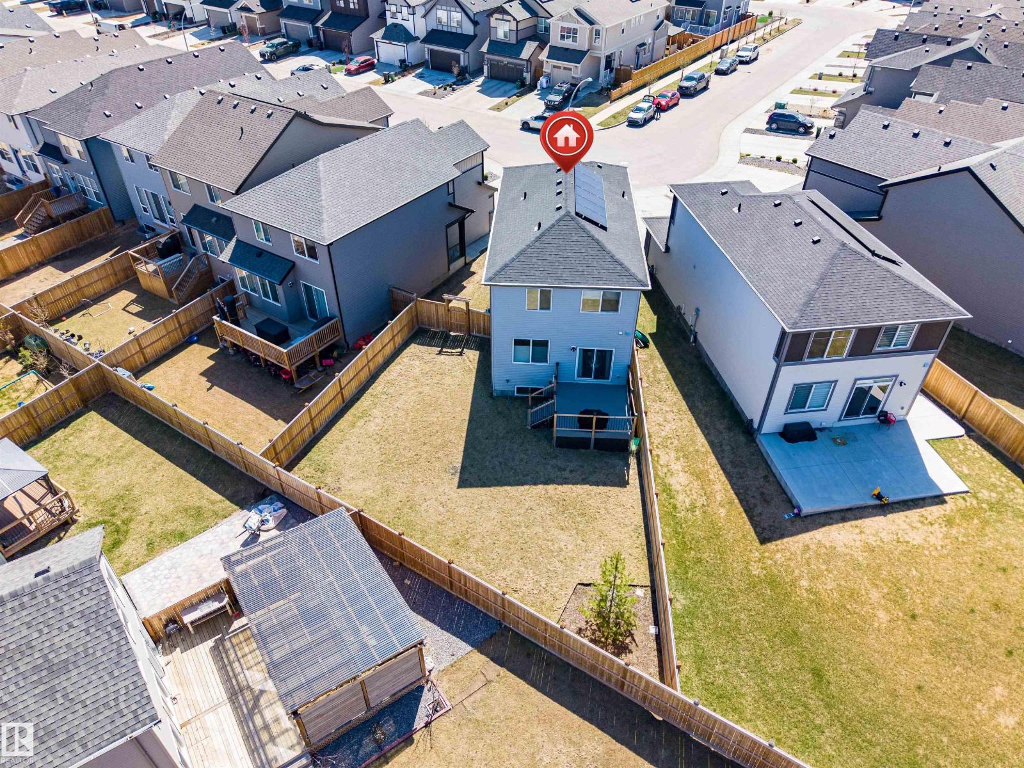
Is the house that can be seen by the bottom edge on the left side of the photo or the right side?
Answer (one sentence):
The house that can be seen by the bottom edge is on the left side of the image.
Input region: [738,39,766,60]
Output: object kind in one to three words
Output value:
car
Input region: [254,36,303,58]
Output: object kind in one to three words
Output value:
truck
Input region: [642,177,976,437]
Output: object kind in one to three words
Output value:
house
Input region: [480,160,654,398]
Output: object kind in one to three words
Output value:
house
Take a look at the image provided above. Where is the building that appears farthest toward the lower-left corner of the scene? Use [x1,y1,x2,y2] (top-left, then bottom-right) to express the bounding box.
[0,525,188,768]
